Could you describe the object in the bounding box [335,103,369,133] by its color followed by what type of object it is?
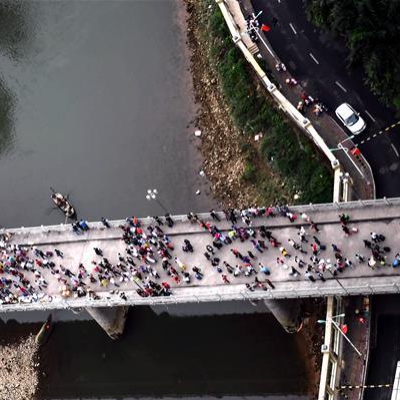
white car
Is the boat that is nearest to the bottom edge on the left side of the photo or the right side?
left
